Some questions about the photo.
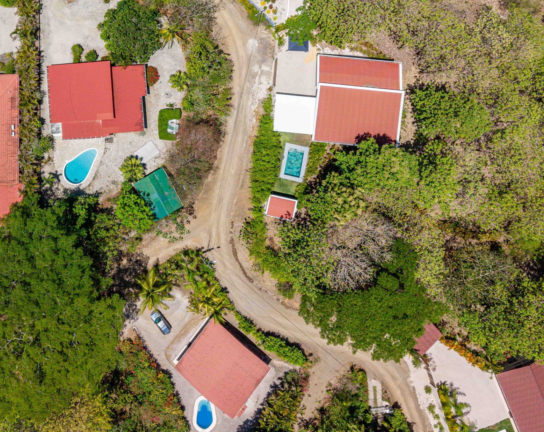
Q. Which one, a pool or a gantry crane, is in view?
pool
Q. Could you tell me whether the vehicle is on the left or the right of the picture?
left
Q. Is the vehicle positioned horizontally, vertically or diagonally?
diagonally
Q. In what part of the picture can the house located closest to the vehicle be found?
bottom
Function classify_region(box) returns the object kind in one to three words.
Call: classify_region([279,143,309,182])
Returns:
swimming pool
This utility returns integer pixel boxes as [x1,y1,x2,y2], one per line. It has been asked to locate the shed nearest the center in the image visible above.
[265,194,298,221]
